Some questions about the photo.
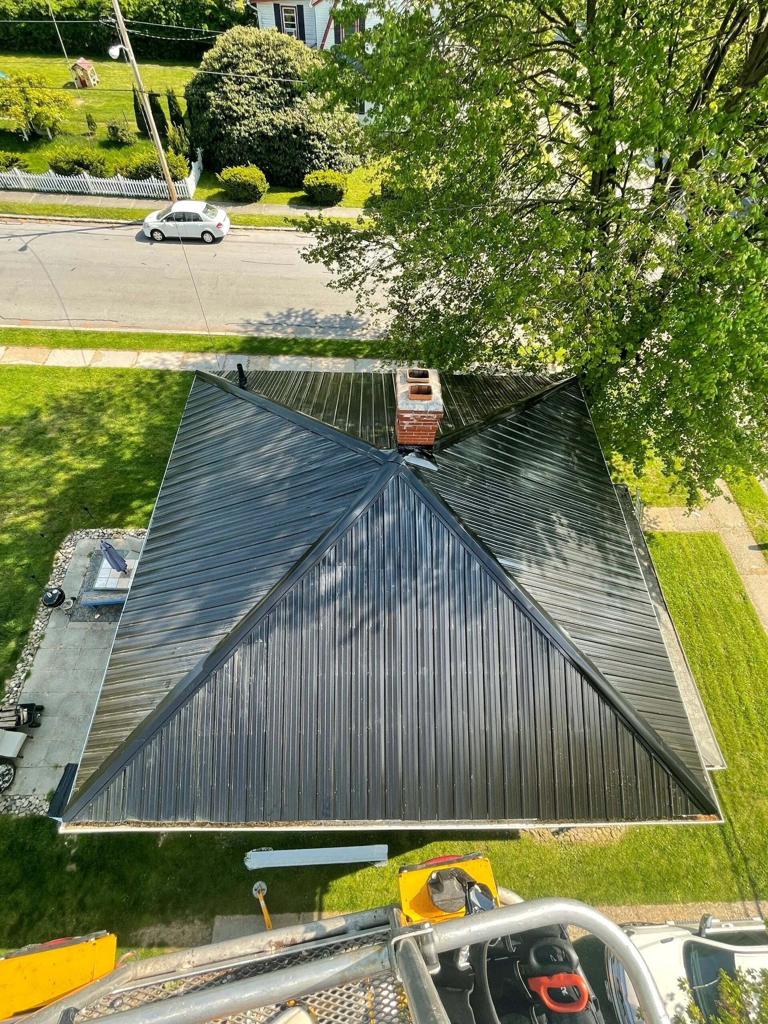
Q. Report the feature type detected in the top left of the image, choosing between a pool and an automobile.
automobile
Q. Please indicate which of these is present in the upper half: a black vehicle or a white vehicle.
white vehicle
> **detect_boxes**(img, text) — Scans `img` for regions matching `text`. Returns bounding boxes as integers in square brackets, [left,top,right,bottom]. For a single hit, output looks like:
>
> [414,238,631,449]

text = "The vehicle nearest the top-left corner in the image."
[139,197,229,242]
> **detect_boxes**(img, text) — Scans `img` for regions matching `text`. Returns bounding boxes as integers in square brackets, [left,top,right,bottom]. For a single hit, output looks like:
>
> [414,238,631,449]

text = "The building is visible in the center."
[48,362,728,835]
